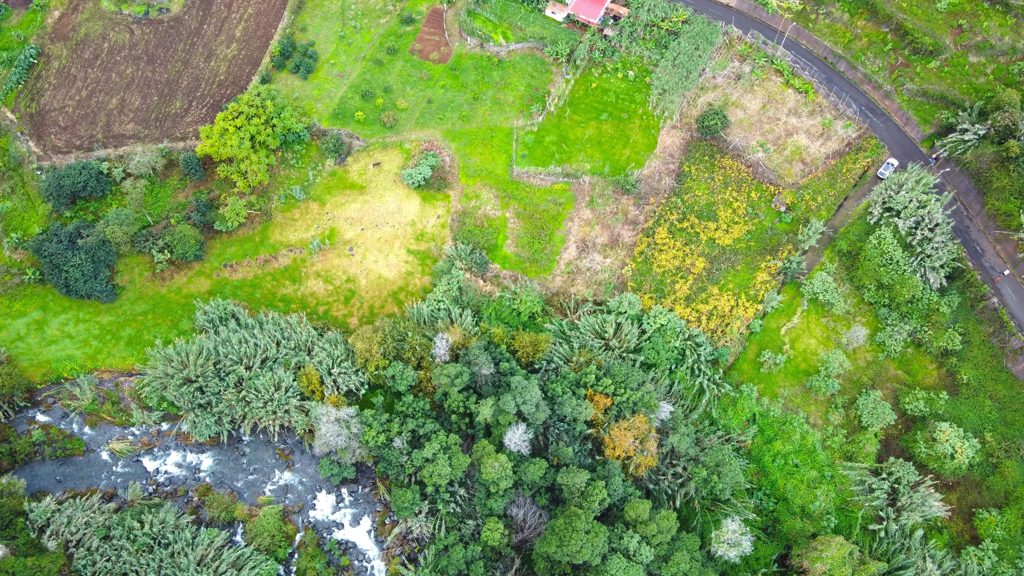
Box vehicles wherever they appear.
[878,159,896,176]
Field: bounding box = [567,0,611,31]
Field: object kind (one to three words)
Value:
house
